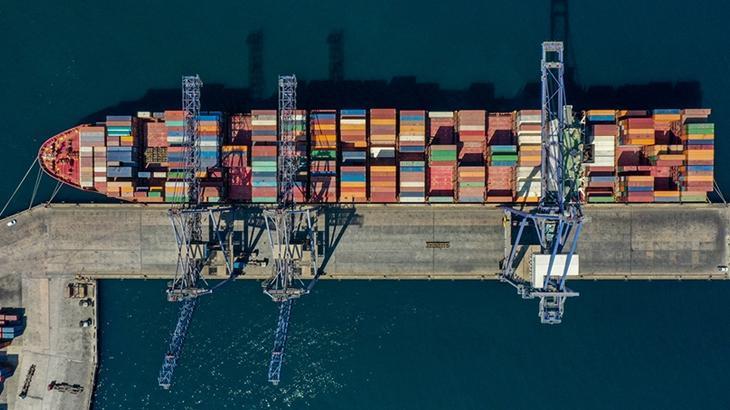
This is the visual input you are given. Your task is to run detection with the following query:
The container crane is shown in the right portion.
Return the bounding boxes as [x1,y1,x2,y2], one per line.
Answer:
[495,39,582,322]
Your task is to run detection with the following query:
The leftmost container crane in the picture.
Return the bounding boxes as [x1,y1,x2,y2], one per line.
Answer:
[157,76,245,389]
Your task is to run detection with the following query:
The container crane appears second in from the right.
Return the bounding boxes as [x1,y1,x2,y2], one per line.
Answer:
[264,76,324,385]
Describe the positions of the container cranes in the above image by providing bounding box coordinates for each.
[157,76,245,389]
[495,39,582,322]
[264,76,324,385]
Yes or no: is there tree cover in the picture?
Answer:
No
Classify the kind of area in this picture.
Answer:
port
